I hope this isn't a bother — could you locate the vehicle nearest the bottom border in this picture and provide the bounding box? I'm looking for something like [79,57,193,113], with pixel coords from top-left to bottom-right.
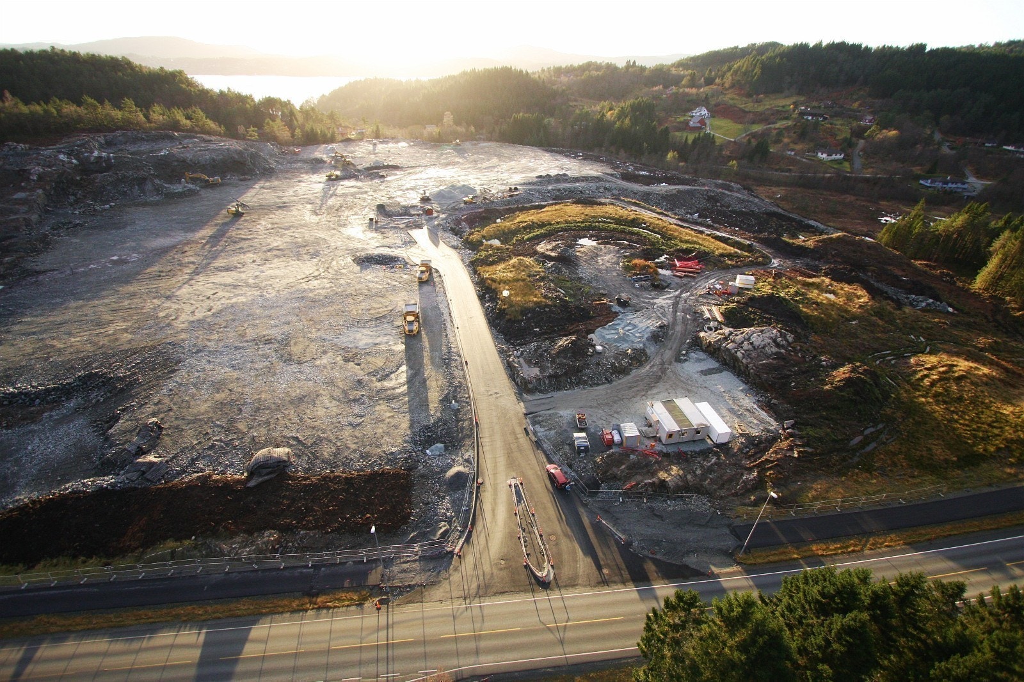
[546,469,573,497]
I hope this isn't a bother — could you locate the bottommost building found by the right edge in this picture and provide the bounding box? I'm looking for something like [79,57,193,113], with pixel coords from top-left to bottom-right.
[920,176,980,192]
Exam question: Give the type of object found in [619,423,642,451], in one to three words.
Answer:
shed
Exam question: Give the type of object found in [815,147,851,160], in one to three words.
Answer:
house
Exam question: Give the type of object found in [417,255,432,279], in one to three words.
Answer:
vehicle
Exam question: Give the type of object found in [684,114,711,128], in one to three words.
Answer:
barn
